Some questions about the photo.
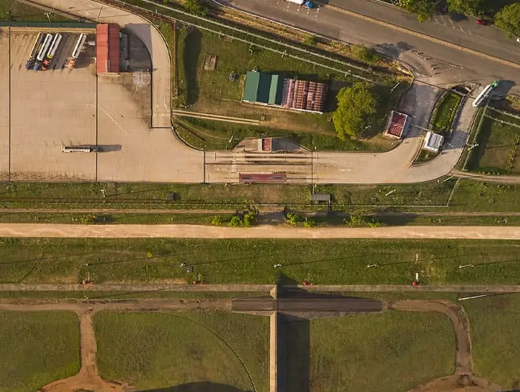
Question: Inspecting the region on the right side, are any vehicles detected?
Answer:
Yes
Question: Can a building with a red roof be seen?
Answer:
Yes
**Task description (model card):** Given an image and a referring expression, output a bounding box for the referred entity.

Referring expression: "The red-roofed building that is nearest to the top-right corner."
[382,112,408,141]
